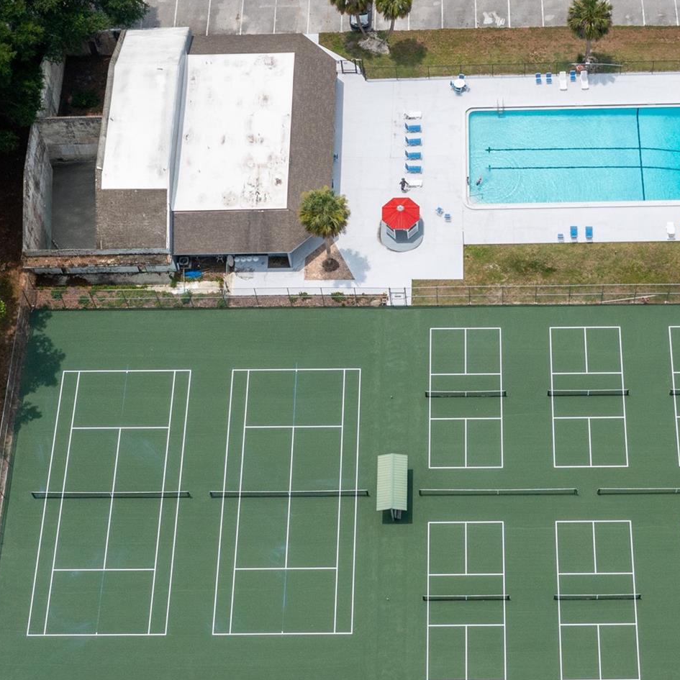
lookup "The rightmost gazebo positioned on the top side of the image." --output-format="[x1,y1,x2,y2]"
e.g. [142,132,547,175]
[380,198,423,252]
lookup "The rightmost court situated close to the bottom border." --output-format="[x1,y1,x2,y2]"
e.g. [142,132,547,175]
[553,519,642,680]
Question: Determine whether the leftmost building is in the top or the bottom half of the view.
top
